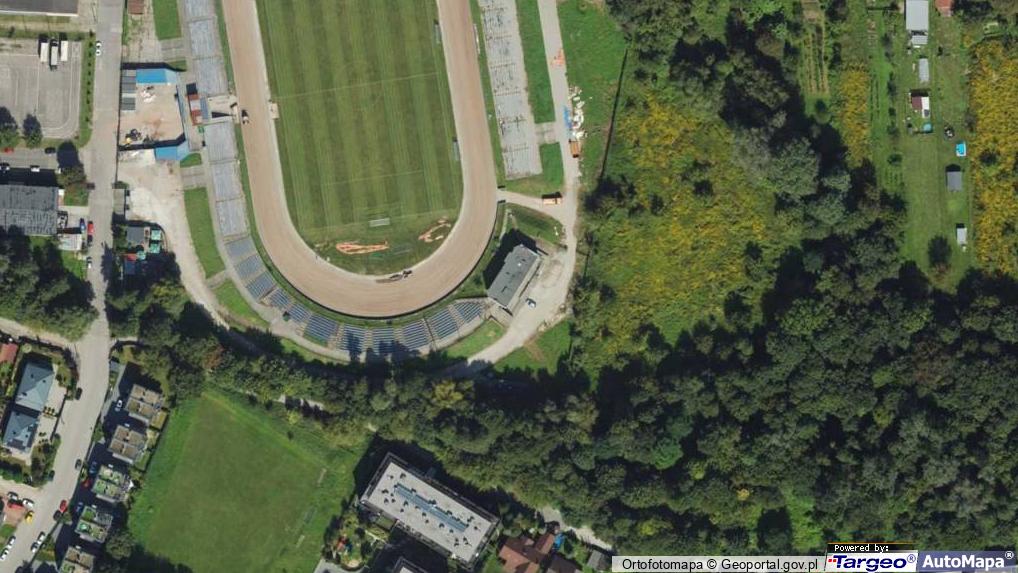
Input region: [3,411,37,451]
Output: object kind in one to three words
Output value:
house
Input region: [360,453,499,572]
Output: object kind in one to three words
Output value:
building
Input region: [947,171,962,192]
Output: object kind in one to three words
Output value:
shed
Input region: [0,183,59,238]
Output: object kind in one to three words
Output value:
building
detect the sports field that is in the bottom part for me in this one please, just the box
[136,396,360,573]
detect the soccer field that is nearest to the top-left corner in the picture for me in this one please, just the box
[265,0,459,232]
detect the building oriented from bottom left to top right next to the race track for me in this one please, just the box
[487,243,543,309]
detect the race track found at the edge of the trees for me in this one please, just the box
[223,0,497,317]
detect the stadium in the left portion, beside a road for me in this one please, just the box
[177,0,543,366]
